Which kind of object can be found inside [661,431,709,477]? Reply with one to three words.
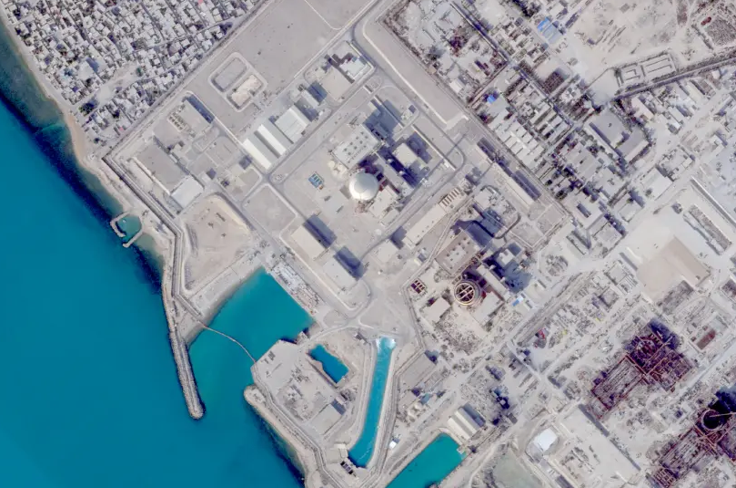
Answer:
building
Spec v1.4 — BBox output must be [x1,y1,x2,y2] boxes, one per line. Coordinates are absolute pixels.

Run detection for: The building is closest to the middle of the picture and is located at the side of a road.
[372,240,399,264]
